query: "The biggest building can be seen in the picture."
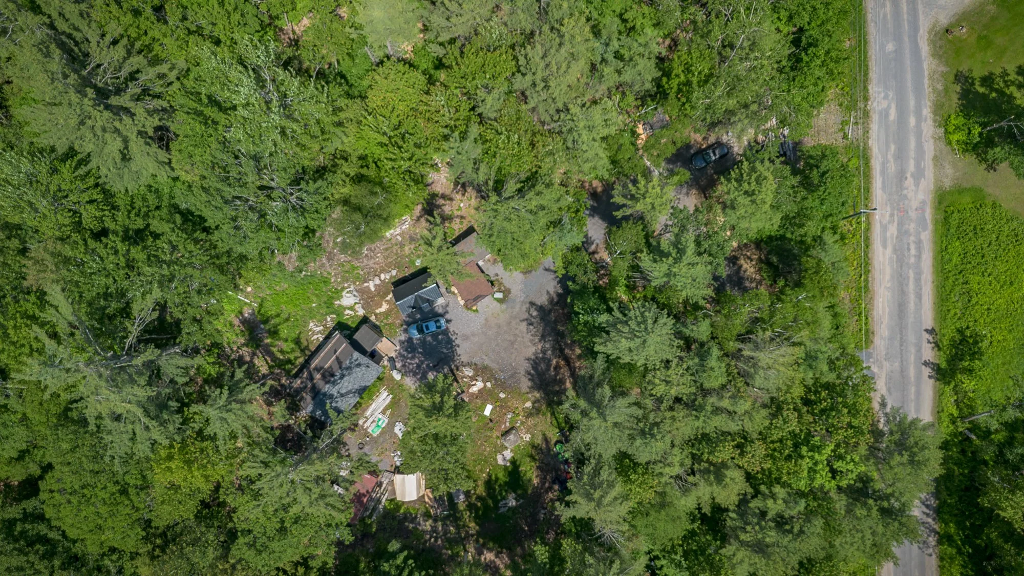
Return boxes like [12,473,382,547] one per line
[292,330,383,423]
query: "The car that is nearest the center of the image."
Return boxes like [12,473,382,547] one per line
[406,315,449,339]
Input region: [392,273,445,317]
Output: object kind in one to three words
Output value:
shed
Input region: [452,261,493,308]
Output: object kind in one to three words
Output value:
shed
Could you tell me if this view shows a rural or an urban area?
rural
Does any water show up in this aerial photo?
No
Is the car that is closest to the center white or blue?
blue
